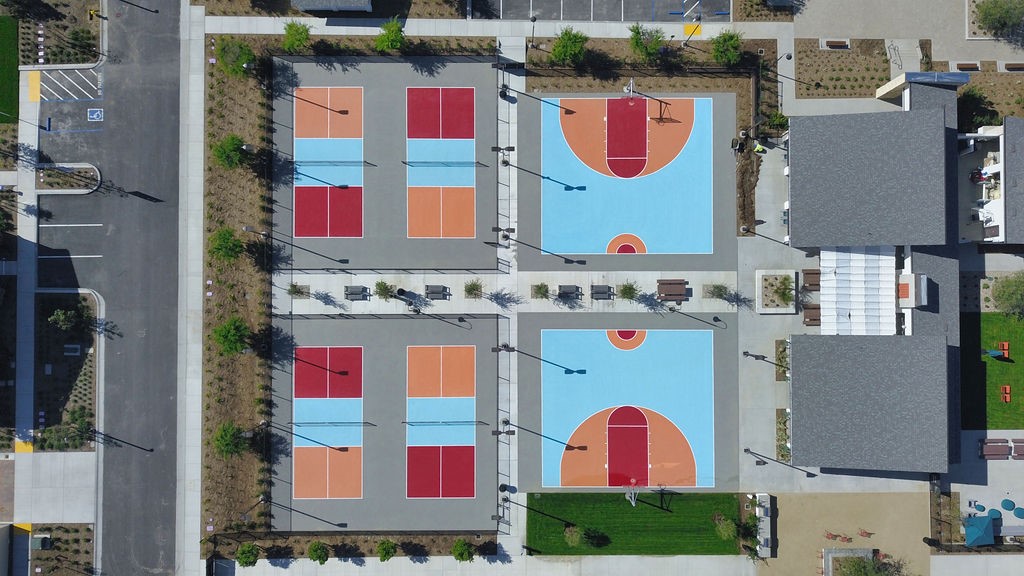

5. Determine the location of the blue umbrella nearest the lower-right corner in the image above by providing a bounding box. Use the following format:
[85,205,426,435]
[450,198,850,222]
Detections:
[959,515,996,547]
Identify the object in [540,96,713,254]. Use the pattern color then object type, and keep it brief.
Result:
blue basketball court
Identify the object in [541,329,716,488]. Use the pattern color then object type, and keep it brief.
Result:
blue basketball court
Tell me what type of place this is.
sports ground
